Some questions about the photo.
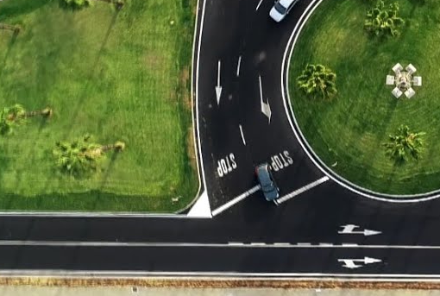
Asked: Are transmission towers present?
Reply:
No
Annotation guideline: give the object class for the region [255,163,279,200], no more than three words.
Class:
car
